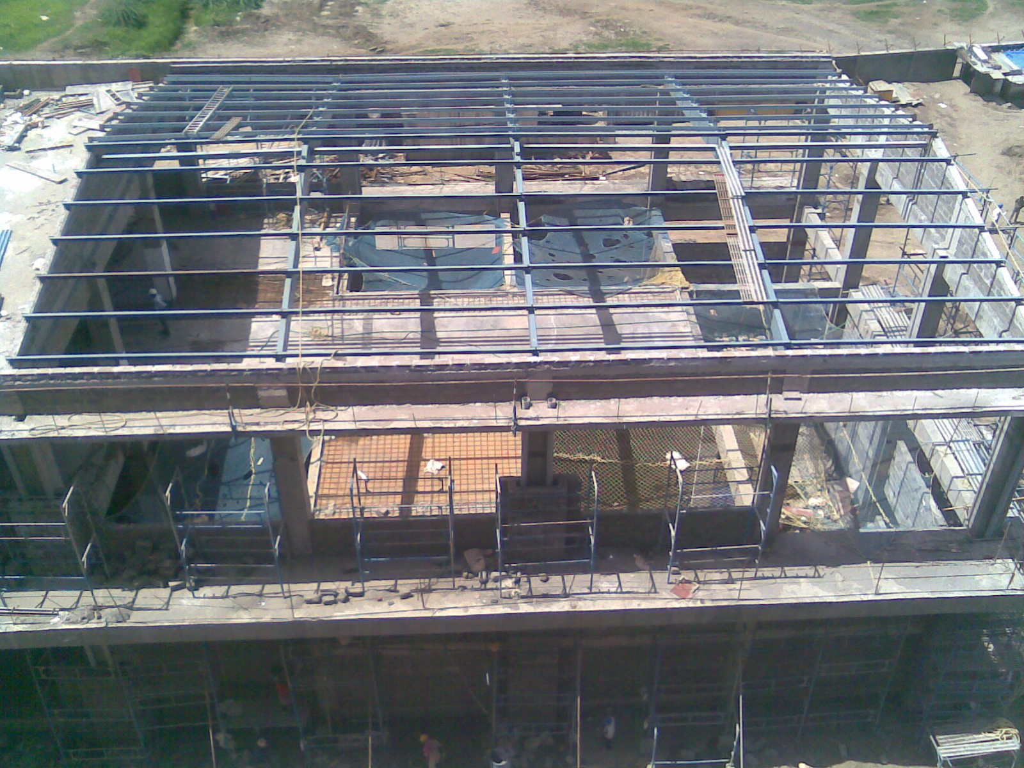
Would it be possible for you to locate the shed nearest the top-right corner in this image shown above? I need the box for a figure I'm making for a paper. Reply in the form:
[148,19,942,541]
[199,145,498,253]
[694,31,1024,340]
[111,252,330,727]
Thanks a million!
[949,51,1024,108]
